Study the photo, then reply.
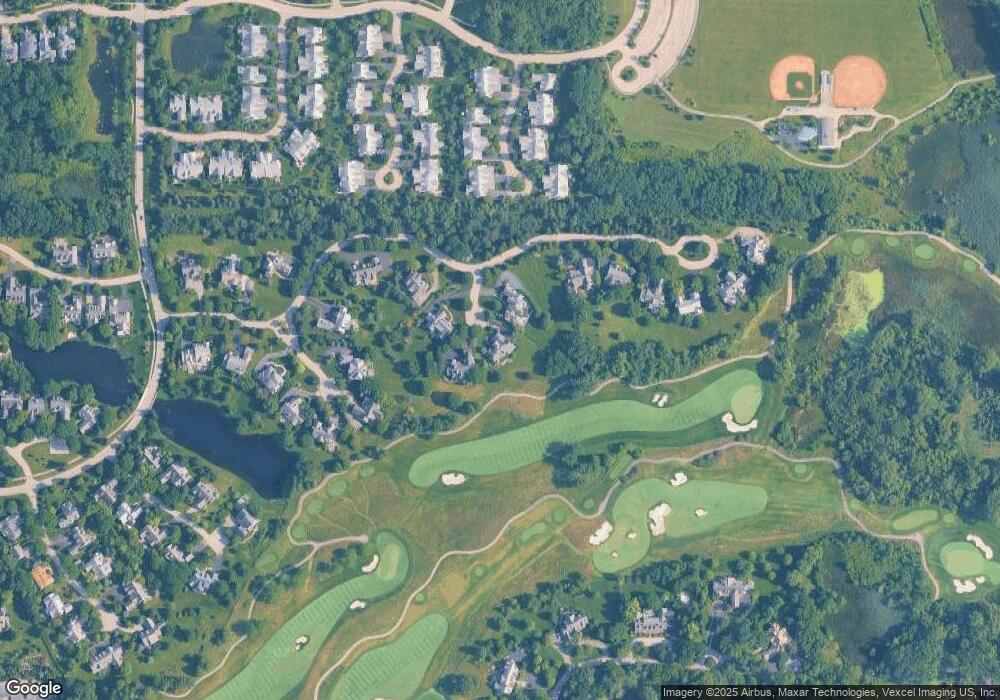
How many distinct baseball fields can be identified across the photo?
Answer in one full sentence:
The photo contains 2 baseball fields.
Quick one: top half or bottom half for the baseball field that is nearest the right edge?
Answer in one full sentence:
You can find the baseball field that is nearest the right edge in the top half.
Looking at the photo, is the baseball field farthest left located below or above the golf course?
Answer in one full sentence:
The baseball field farthest left appears above the golf course in the picture.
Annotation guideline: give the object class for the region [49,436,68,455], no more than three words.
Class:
building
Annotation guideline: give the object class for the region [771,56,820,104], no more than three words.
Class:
baseball field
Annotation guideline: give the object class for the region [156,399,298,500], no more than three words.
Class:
pond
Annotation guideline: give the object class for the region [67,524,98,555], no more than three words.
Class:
house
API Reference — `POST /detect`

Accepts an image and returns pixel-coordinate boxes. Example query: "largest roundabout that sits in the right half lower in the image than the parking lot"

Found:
[676,235,718,268]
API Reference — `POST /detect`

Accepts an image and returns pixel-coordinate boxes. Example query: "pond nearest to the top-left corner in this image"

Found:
[88,35,122,137]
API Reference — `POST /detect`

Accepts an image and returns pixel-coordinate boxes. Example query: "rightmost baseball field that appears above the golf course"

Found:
[833,55,887,107]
